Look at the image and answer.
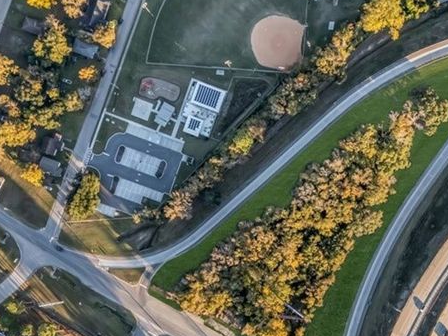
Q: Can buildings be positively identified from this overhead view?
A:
Yes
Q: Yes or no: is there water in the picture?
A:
No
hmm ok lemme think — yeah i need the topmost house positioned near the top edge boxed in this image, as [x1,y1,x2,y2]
[89,0,111,24]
